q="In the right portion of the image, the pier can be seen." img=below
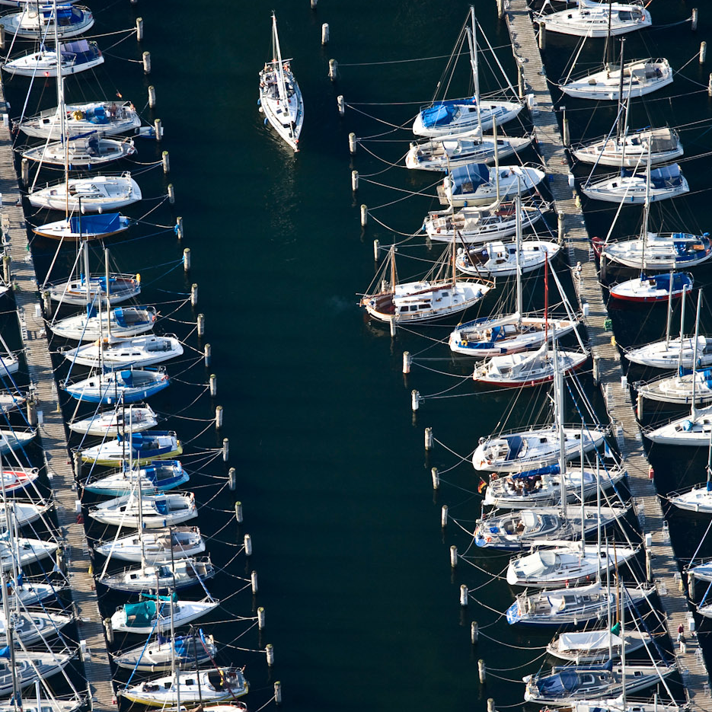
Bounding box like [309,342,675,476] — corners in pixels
[502,0,712,712]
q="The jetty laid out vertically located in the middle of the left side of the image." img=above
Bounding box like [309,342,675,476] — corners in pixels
[0,80,118,712]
